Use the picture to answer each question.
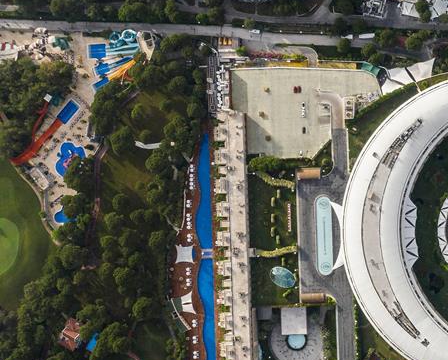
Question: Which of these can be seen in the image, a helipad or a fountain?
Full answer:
This aerial view contains a fountain.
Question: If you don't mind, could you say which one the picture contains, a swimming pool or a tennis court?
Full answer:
There is a swimming pool in the scene.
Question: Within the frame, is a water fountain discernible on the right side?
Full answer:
Yes, a water fountain shows up on the right side.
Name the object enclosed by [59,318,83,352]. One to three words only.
house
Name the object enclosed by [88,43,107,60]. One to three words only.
swimming pool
